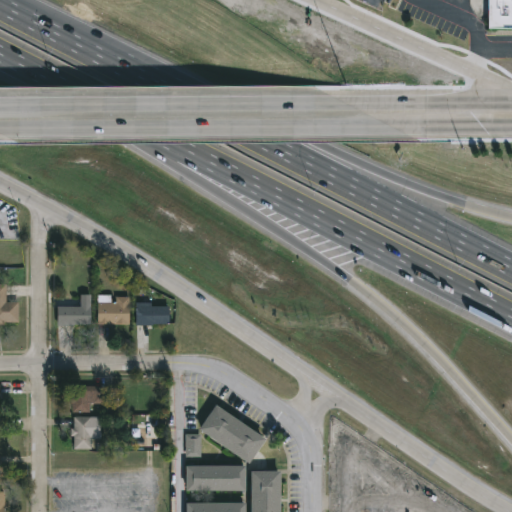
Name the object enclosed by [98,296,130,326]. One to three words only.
house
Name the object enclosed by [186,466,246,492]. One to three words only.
building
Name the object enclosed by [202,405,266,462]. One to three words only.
building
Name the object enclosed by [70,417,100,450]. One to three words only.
house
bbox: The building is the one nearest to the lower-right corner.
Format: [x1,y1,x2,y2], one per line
[252,472,282,512]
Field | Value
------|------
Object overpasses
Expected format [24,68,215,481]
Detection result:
[0,86,432,145]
